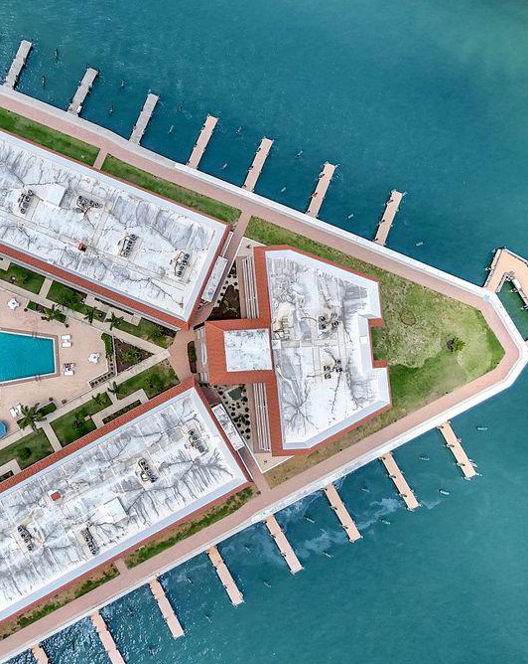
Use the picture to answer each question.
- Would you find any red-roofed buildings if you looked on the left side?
No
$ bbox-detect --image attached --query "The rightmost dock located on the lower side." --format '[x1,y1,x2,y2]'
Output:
[437,419,482,480]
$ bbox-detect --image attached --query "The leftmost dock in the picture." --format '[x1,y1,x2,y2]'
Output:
[3,37,34,90]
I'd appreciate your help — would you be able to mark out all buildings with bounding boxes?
[0,378,252,626]
[0,127,234,330]
[190,245,390,455]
